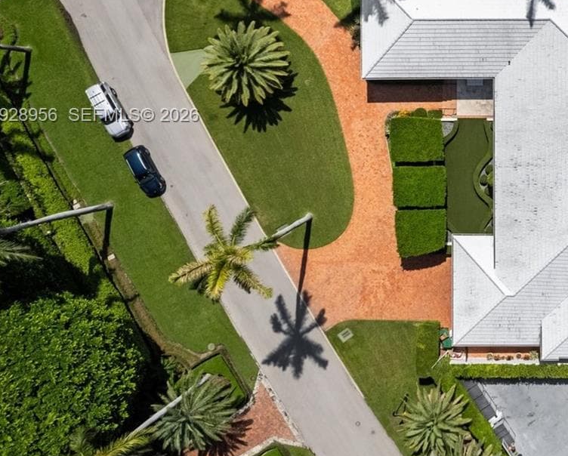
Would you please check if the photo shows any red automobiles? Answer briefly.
No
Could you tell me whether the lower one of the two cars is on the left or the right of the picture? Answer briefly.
left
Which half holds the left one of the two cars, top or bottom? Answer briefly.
top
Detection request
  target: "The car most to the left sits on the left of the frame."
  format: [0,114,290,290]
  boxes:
[79,79,130,138]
